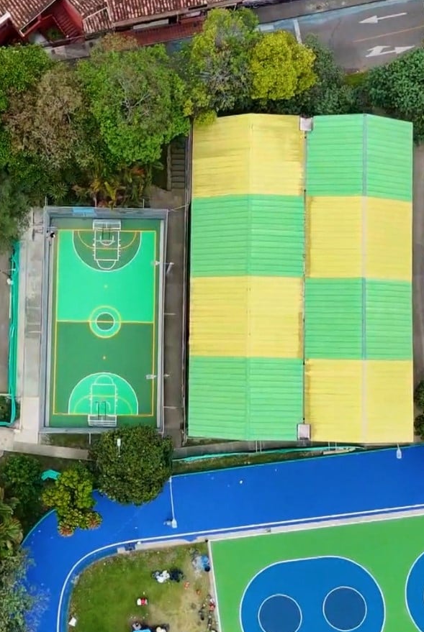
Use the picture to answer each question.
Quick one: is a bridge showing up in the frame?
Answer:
No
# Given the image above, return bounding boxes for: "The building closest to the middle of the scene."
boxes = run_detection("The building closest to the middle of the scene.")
[184,113,413,443]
